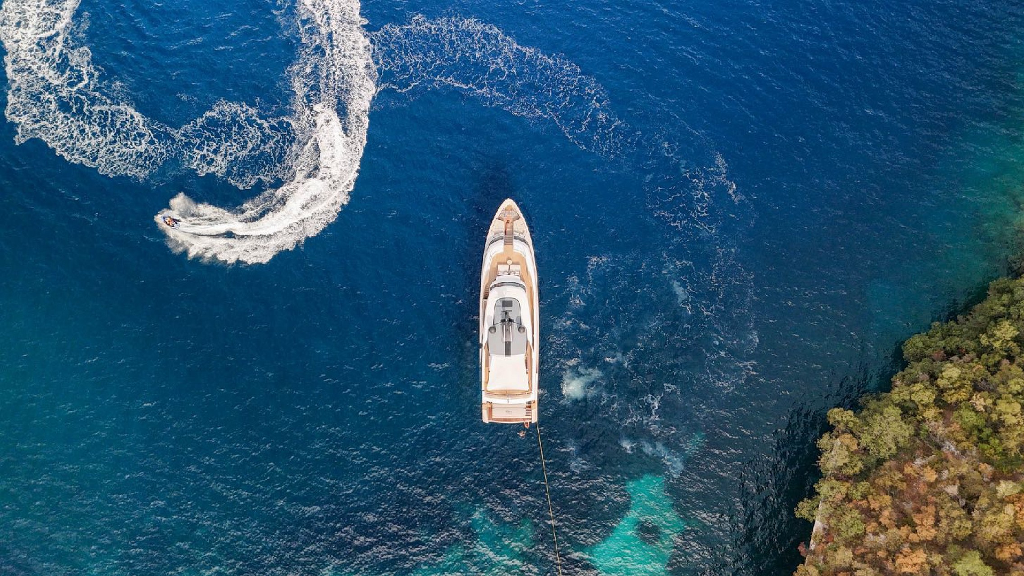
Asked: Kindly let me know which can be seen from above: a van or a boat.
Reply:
boat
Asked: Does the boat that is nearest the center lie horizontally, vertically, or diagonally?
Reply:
vertically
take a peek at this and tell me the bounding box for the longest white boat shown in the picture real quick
[480,198,539,429]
